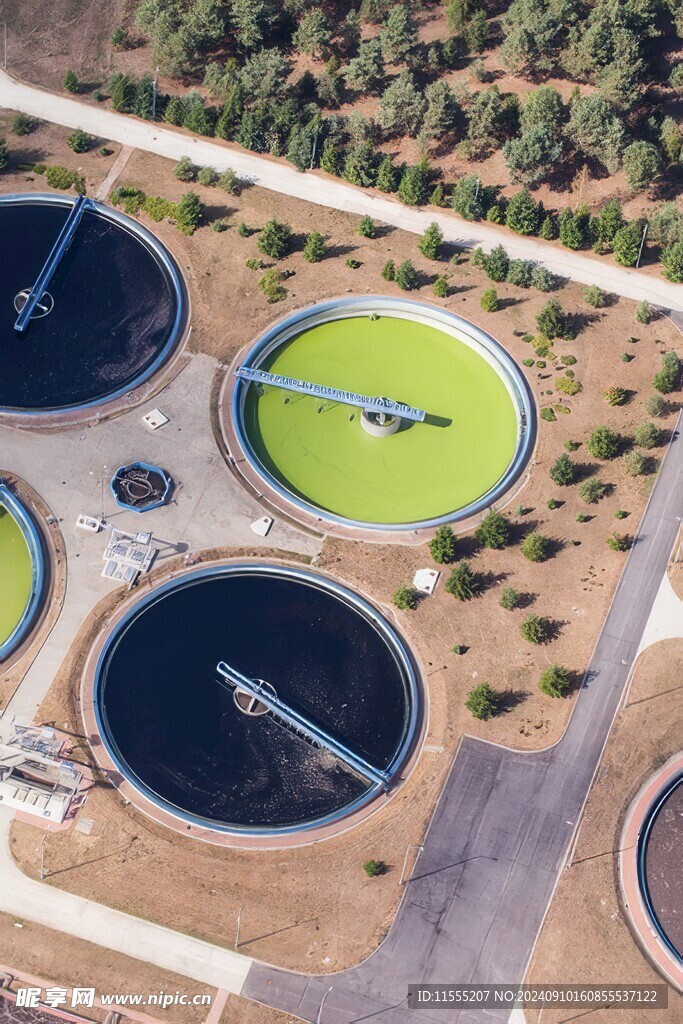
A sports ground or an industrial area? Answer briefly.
industrial area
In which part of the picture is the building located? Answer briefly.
bottom left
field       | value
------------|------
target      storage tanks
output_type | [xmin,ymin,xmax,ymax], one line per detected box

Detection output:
[0,478,54,675]
[79,560,430,853]
[0,191,192,431]
[618,748,683,992]
[218,296,535,543]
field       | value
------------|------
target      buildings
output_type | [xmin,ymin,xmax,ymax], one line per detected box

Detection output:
[0,754,90,827]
